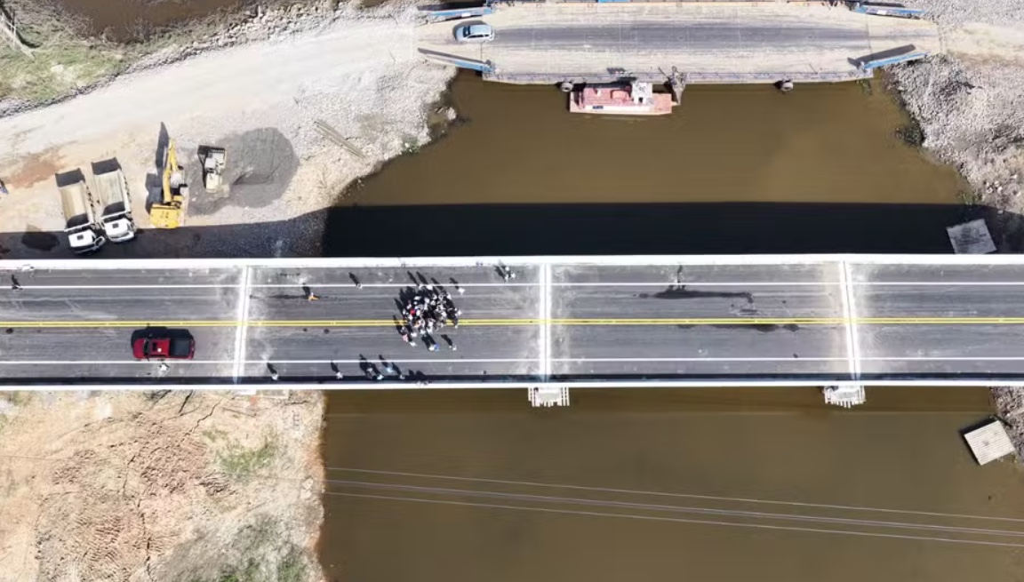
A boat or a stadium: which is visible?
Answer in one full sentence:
This aerial view contains a boat.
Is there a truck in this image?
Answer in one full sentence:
Yes, you can see a truck in this photo.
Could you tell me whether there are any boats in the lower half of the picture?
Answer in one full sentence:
No, looking in the lower half of the picture, there is no boat.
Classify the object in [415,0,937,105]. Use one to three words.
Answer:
ship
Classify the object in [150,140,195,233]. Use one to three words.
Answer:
work vehicle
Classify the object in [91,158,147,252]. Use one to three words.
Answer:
truck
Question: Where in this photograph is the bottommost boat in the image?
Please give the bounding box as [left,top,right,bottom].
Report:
[569,82,676,115]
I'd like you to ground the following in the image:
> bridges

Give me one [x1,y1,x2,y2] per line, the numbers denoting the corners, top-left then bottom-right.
[0,254,1024,406]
